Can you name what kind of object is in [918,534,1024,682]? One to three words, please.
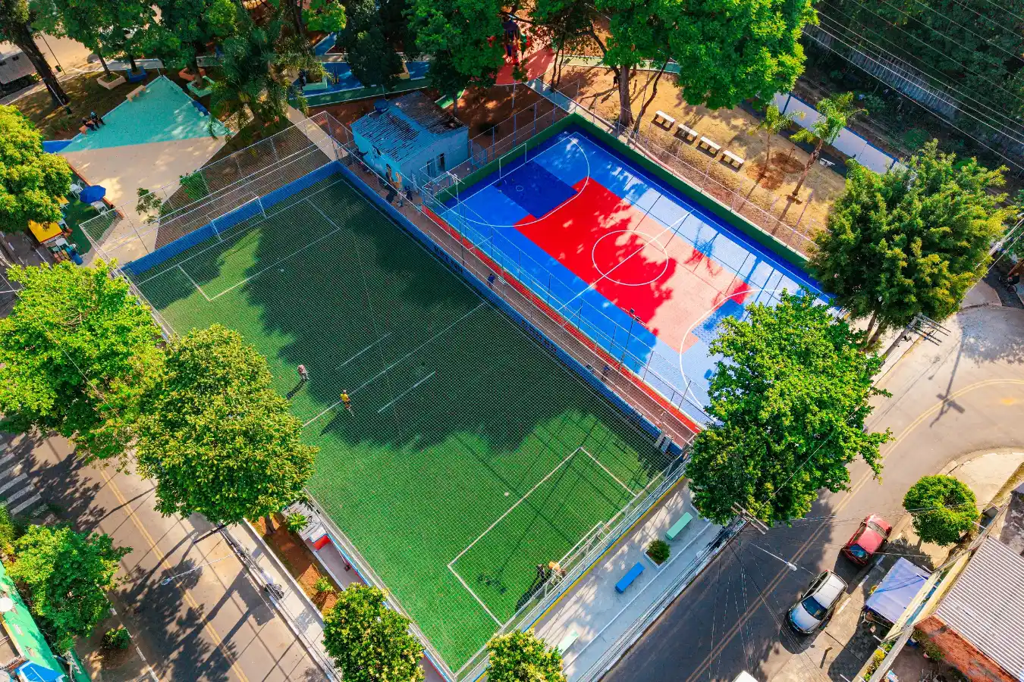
house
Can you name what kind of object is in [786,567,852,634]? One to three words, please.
car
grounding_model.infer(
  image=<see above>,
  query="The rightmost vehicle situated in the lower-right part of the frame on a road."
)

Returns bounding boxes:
[840,512,894,571]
